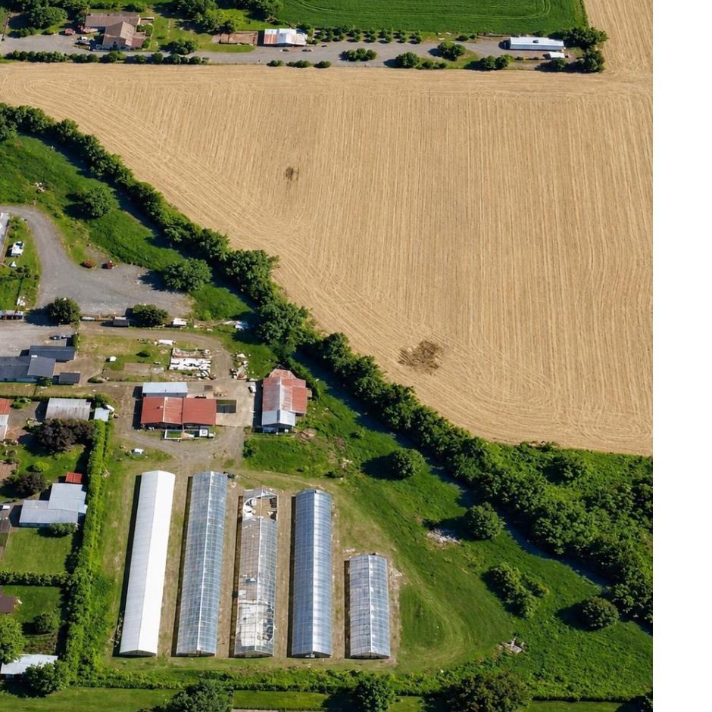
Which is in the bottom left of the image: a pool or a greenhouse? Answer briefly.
greenhouse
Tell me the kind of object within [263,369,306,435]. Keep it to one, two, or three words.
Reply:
barn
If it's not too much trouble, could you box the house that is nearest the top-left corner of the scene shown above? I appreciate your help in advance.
[85,11,143,54]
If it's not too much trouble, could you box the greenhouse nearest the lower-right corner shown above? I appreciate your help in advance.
[349,554,390,661]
